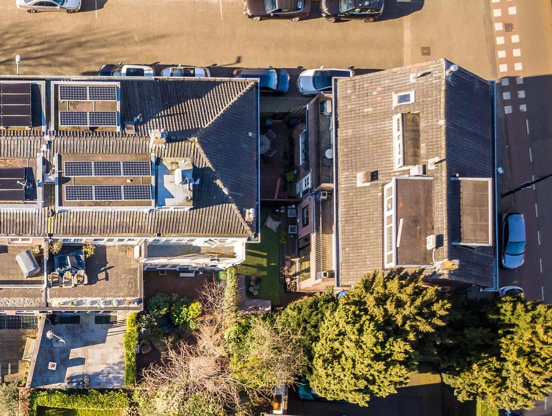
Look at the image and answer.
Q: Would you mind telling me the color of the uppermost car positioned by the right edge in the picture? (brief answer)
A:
blue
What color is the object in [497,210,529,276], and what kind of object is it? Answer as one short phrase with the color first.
blue car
